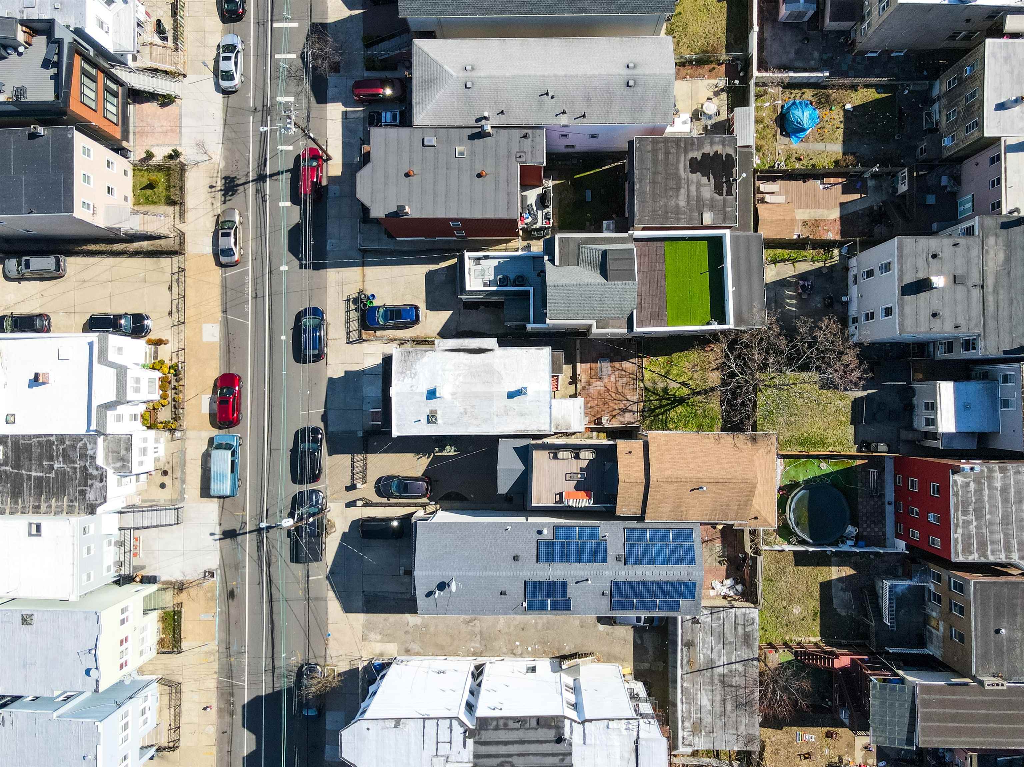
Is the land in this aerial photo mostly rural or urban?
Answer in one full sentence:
The area shown here is urban.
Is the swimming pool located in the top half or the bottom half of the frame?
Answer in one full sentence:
Seen from above, the swimming pool lies in the bottom half of the view.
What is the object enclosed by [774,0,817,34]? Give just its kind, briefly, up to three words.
shed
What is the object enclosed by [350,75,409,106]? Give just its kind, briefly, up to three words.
car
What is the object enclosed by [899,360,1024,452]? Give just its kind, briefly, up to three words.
house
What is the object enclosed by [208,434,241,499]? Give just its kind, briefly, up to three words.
van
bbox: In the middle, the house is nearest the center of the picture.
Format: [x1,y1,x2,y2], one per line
[380,340,584,436]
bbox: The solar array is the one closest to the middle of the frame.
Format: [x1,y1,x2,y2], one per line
[538,527,607,564]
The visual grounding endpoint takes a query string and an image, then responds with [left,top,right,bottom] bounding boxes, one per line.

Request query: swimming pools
[780,479,850,545]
